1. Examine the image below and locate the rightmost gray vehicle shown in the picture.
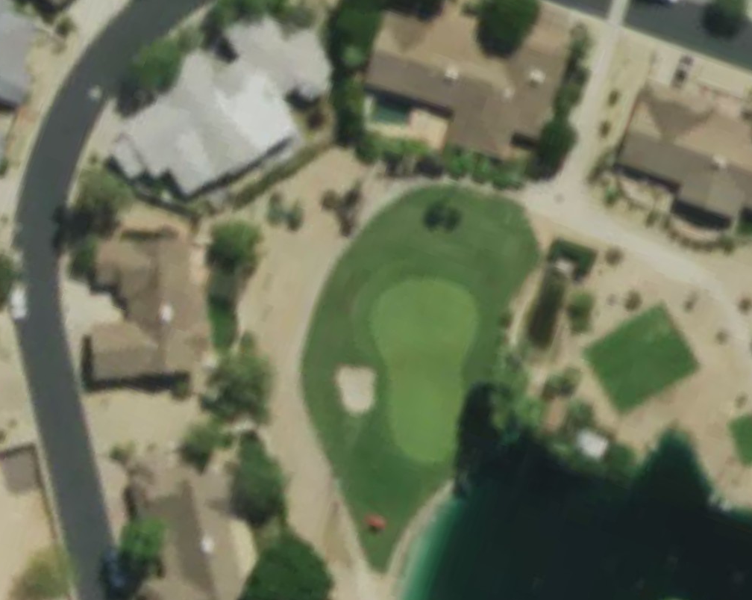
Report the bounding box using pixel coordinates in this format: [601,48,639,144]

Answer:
[673,57,688,86]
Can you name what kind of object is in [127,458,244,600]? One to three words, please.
house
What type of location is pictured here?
residential area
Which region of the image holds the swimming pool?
top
